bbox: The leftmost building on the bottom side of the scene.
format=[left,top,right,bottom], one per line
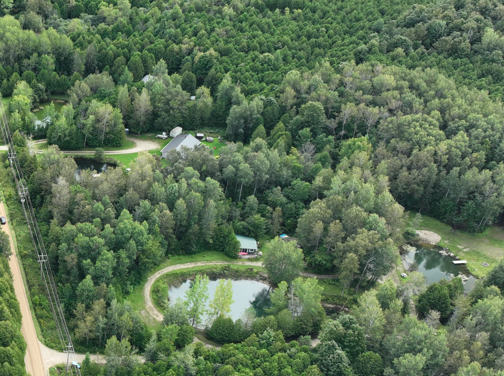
[233,232,260,257]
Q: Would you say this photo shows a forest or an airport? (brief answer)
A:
forest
